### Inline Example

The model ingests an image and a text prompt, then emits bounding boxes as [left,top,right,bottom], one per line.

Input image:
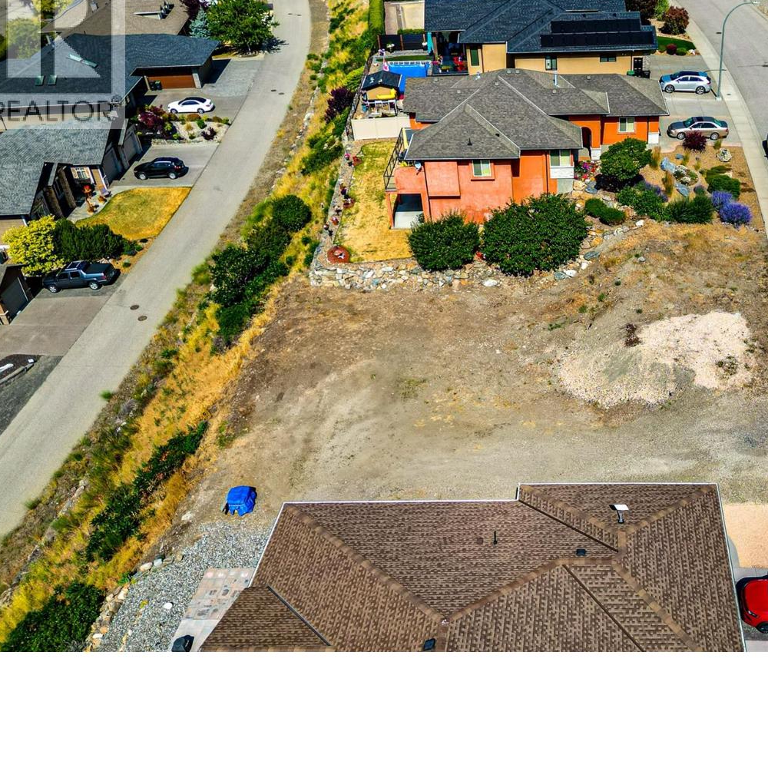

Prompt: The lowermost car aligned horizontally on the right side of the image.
[666,112,727,136]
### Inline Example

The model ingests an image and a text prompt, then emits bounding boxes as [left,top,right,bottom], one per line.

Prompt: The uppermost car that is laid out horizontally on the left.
[164,92,215,112]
